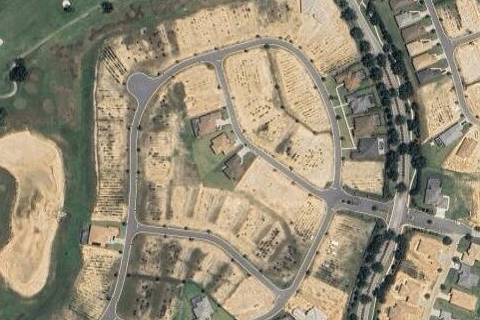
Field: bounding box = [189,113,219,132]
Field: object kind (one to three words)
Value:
house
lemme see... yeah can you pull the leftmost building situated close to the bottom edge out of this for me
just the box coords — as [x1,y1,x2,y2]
[189,294,214,320]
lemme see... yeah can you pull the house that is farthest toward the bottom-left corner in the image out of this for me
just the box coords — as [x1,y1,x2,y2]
[86,227,113,245]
